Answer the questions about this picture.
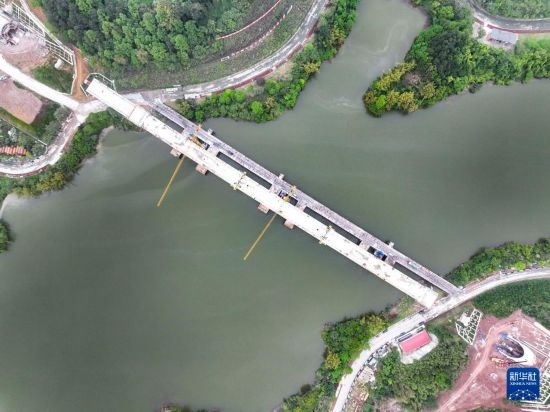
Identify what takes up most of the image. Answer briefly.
water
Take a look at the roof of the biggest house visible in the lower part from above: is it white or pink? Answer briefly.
pink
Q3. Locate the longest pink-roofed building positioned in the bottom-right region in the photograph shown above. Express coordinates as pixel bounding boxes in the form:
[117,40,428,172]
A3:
[400,329,432,355]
